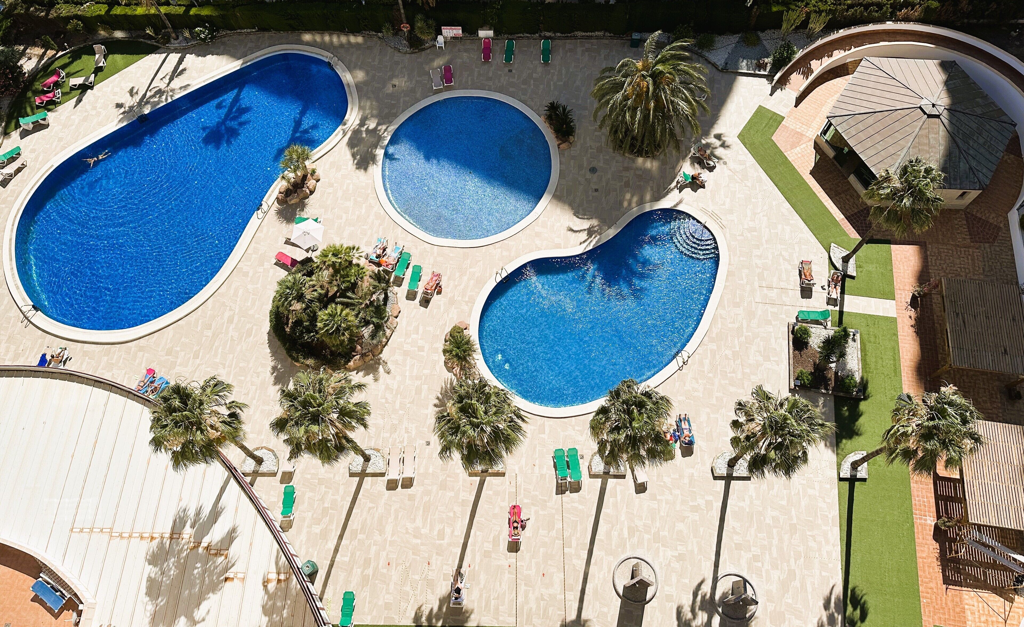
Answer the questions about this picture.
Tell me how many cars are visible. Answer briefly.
0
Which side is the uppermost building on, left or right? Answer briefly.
right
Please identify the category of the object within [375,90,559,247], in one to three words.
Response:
swimming pool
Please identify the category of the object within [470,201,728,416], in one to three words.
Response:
swimming pool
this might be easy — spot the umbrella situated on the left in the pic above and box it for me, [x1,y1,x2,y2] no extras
[290,218,324,251]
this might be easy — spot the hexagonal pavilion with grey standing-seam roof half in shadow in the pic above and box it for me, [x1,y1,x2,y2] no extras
[821,56,1018,204]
